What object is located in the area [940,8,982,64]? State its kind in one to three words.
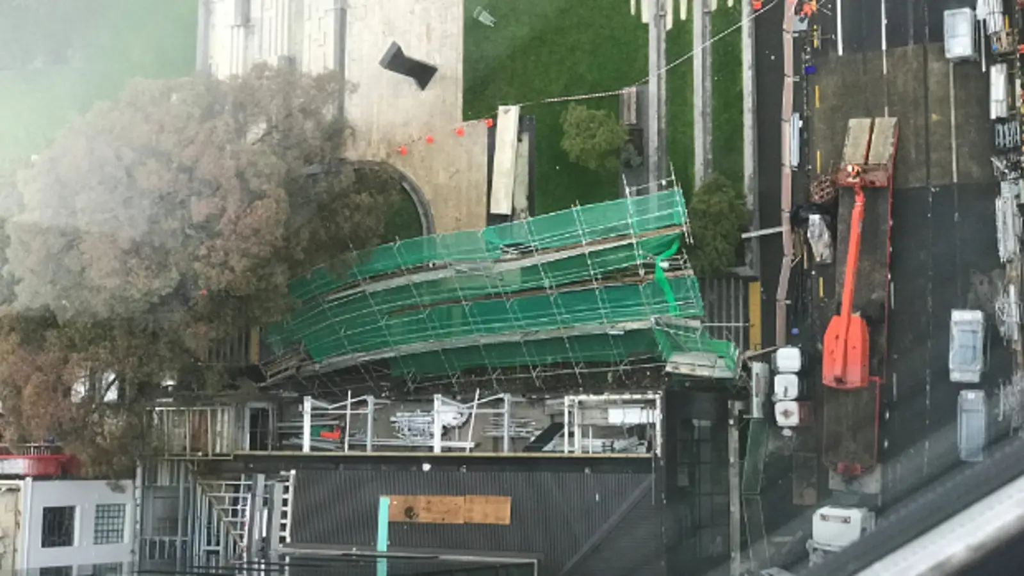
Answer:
trailer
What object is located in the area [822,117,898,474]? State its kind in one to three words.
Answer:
trailer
